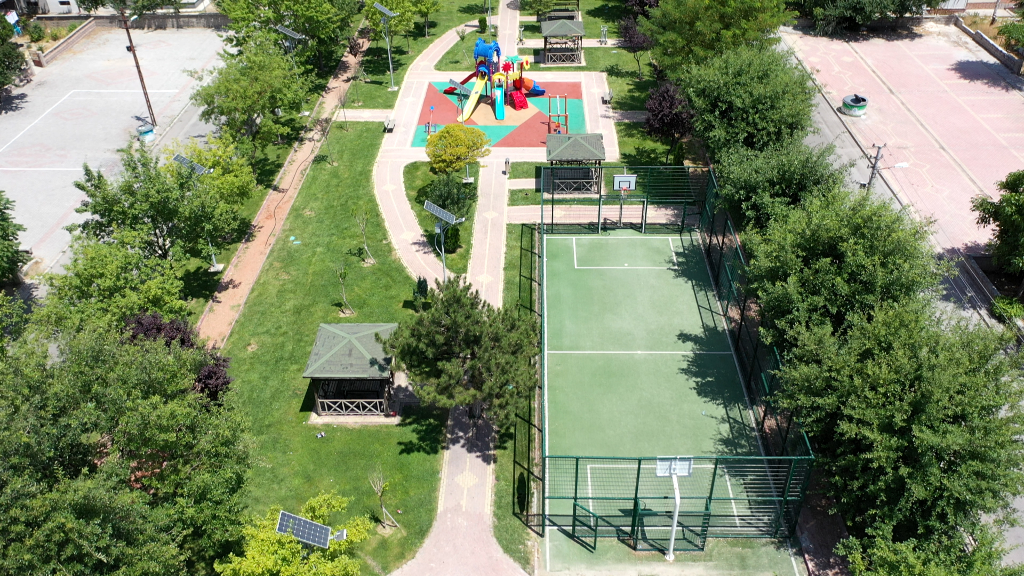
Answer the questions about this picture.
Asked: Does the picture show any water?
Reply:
No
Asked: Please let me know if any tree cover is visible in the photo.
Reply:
Yes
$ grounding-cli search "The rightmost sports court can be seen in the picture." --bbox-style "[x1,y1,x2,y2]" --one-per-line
[543,224,808,576]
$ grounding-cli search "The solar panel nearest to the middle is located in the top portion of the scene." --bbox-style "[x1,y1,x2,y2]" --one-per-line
[422,202,453,226]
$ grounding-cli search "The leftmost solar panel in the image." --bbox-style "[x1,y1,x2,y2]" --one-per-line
[171,160,204,181]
